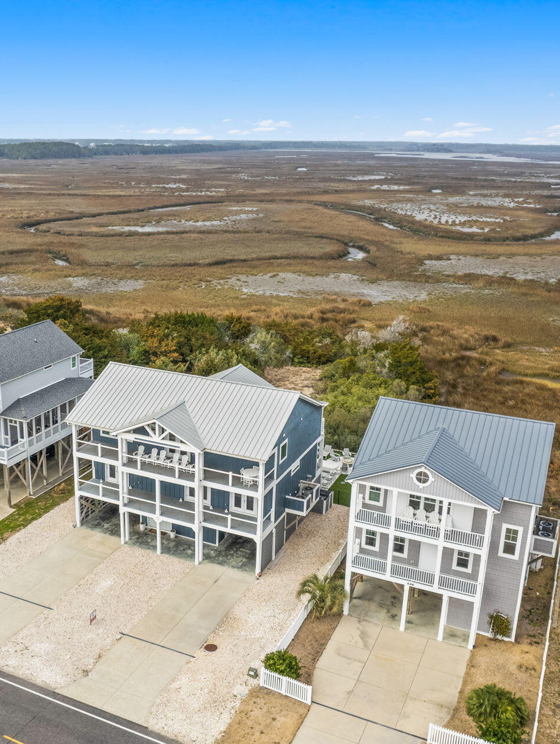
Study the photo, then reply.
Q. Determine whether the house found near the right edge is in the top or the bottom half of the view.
bottom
